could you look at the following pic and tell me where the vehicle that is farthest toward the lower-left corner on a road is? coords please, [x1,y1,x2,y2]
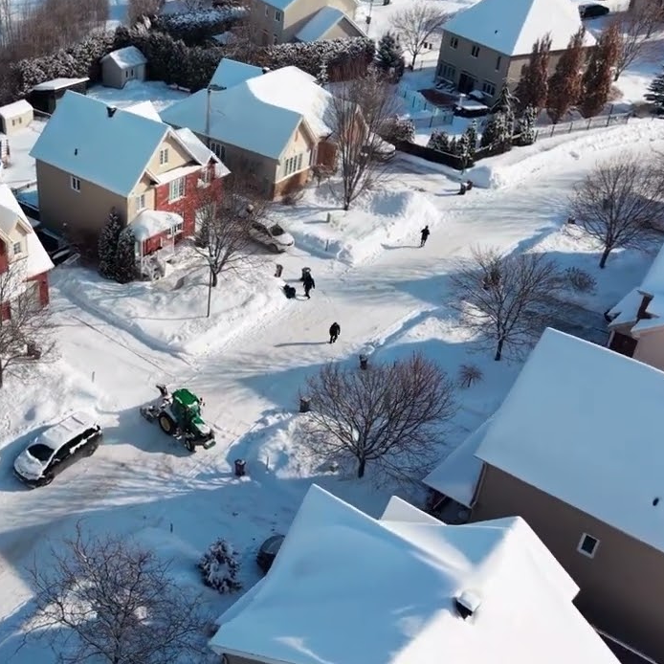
[13,410,104,480]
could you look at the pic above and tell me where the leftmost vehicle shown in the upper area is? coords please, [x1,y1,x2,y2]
[33,219,73,252]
